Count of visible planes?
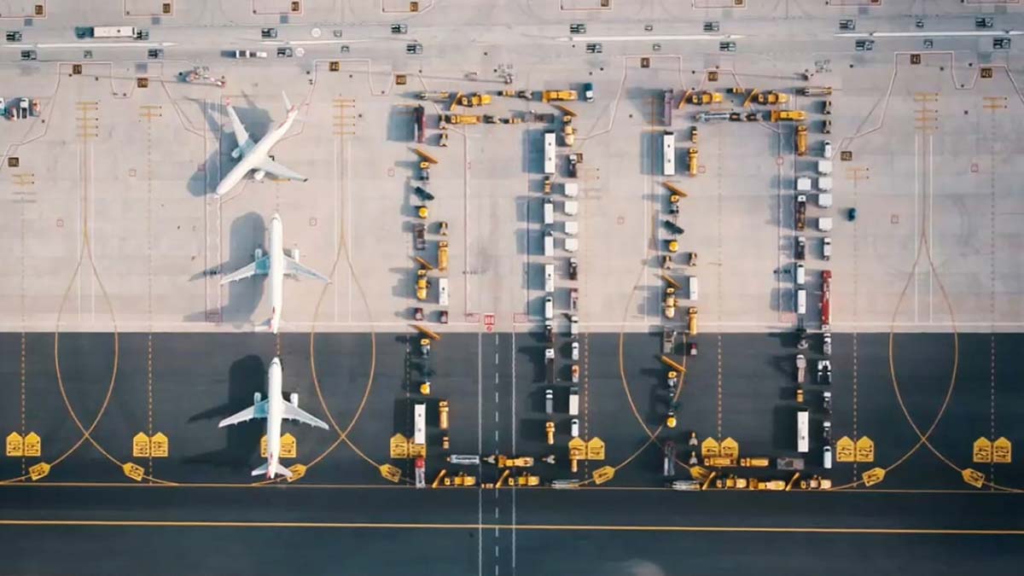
3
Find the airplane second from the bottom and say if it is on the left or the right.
left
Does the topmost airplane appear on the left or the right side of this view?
left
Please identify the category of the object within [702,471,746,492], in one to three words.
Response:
truck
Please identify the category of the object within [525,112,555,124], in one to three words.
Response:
vehicle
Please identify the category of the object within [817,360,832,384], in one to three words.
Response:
work vehicle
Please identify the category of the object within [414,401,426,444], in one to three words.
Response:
vehicle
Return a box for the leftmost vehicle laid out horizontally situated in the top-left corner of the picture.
[94,27,141,39]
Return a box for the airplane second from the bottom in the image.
[218,213,329,336]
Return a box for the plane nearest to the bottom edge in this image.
[218,357,328,480]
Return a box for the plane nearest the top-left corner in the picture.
[216,96,306,198]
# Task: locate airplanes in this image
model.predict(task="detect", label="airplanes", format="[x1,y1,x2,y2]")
[218,213,329,336]
[216,96,306,198]
[218,357,328,480]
